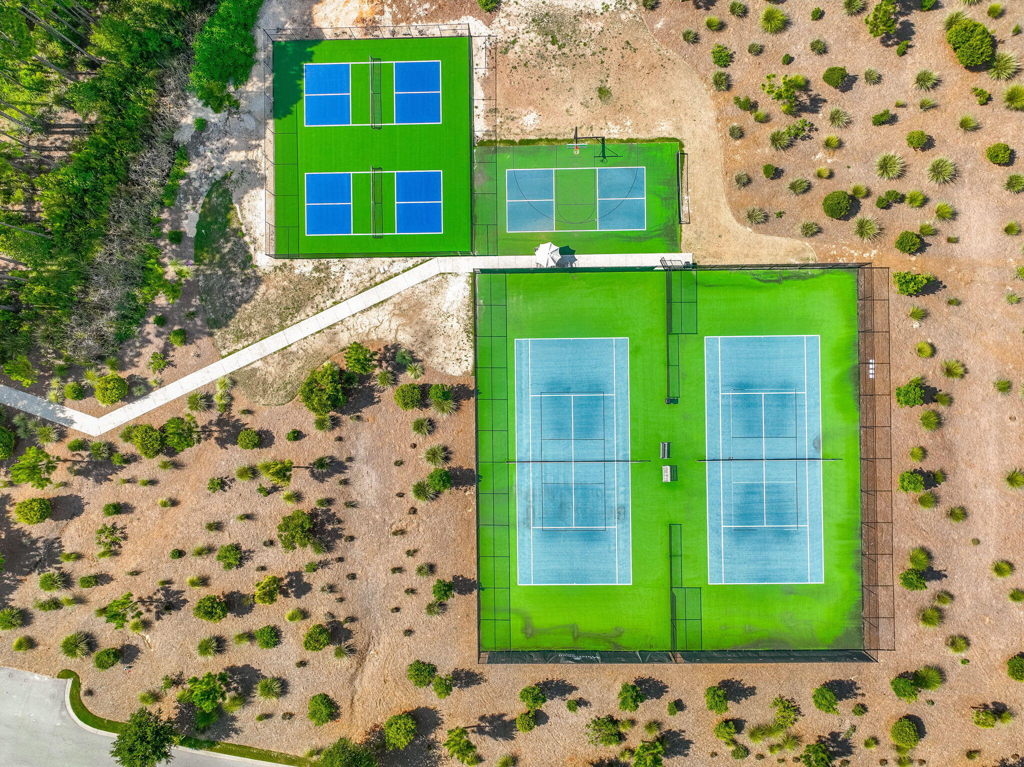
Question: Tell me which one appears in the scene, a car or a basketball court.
basketball court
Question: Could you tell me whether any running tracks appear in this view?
No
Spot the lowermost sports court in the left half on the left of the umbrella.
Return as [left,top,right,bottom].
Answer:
[274,146,473,258]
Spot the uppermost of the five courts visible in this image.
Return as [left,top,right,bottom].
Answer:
[273,37,472,150]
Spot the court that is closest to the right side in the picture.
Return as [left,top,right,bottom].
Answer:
[668,268,863,651]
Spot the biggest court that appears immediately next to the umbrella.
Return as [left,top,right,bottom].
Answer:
[477,271,672,652]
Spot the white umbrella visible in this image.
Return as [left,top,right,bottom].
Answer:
[534,240,562,269]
